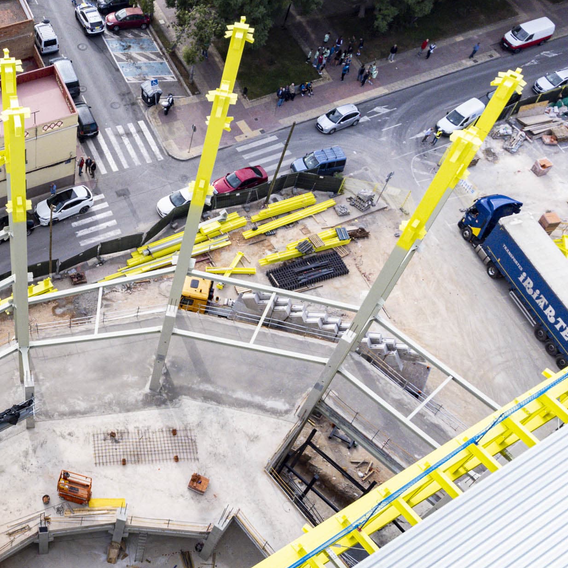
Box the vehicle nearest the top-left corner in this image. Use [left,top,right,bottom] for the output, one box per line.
[34,16,62,54]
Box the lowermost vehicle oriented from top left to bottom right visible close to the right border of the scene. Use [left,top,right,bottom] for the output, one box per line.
[448,195,568,377]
